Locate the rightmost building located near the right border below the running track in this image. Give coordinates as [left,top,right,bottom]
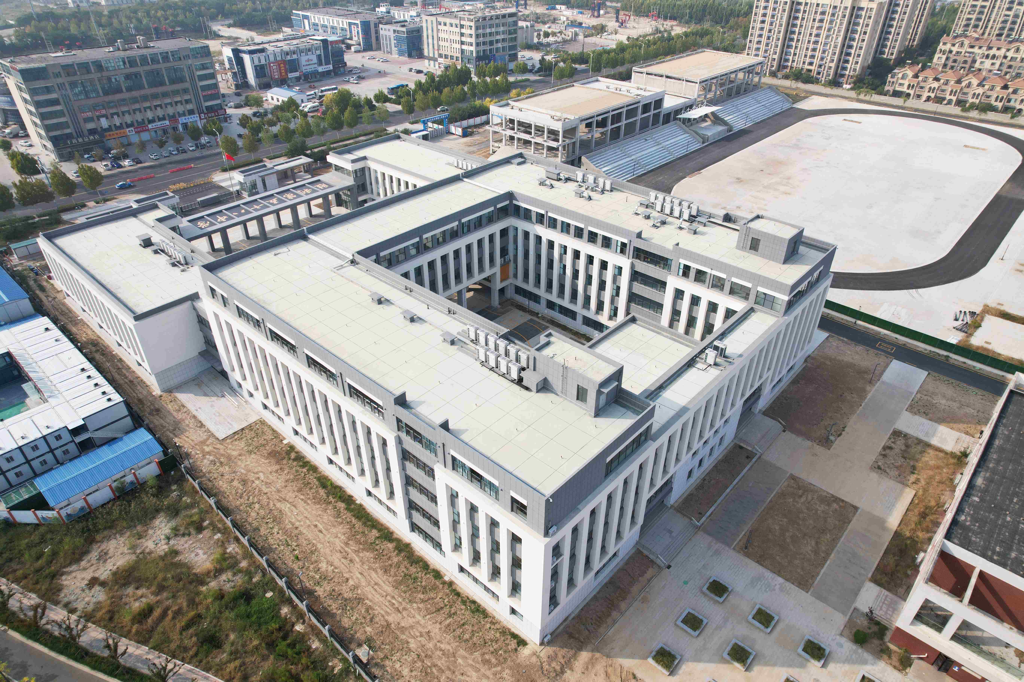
[892,368,1024,682]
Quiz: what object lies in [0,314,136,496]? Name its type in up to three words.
building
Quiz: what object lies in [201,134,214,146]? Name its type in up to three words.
vehicle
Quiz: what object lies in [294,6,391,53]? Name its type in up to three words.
building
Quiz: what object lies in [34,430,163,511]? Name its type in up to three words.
shed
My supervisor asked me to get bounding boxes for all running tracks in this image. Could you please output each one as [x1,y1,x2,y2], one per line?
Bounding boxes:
[629,107,1024,290]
